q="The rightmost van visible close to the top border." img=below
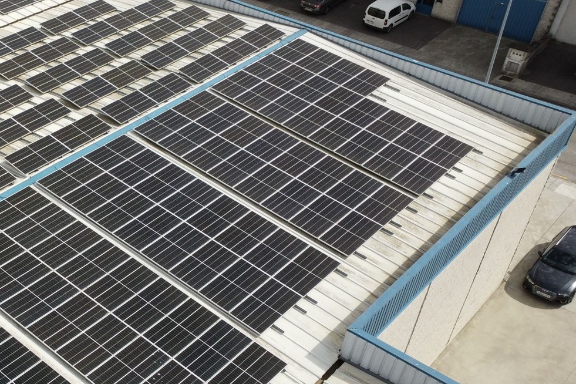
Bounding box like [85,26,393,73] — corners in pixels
[363,0,419,33]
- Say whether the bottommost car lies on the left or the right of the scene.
right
